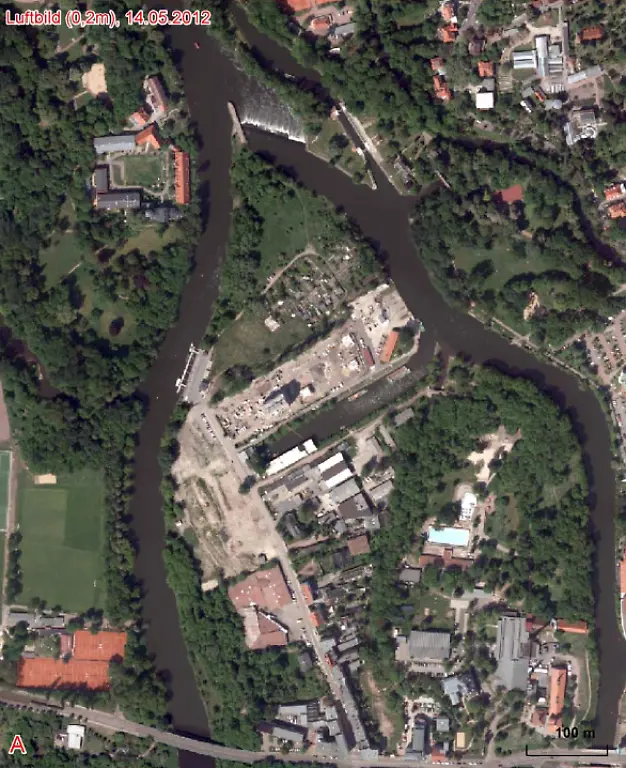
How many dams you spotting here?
1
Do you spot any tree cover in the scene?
Yes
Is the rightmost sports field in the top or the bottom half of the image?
bottom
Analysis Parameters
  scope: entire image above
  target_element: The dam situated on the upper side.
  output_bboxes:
[231,62,305,142]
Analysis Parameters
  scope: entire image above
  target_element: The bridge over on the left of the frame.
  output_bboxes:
[157,729,220,758]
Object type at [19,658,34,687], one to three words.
tennis court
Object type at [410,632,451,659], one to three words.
building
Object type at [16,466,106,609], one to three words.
sports field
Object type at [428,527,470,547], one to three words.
swimming pool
